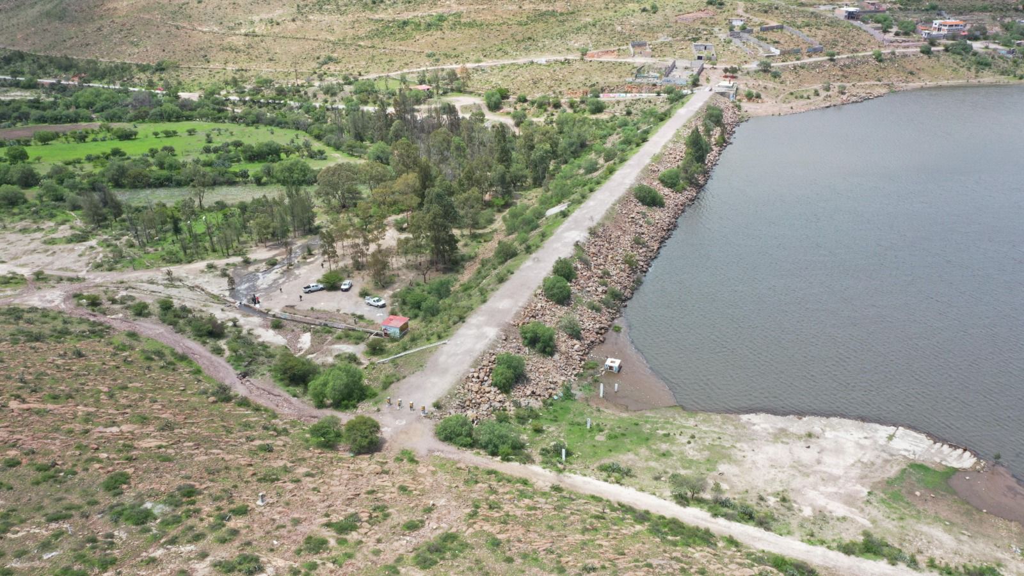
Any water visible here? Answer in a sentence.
Yes, the picture does contain water.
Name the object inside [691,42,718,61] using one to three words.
house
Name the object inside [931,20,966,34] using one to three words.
house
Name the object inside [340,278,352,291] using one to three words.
vehicle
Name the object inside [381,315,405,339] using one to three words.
shed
